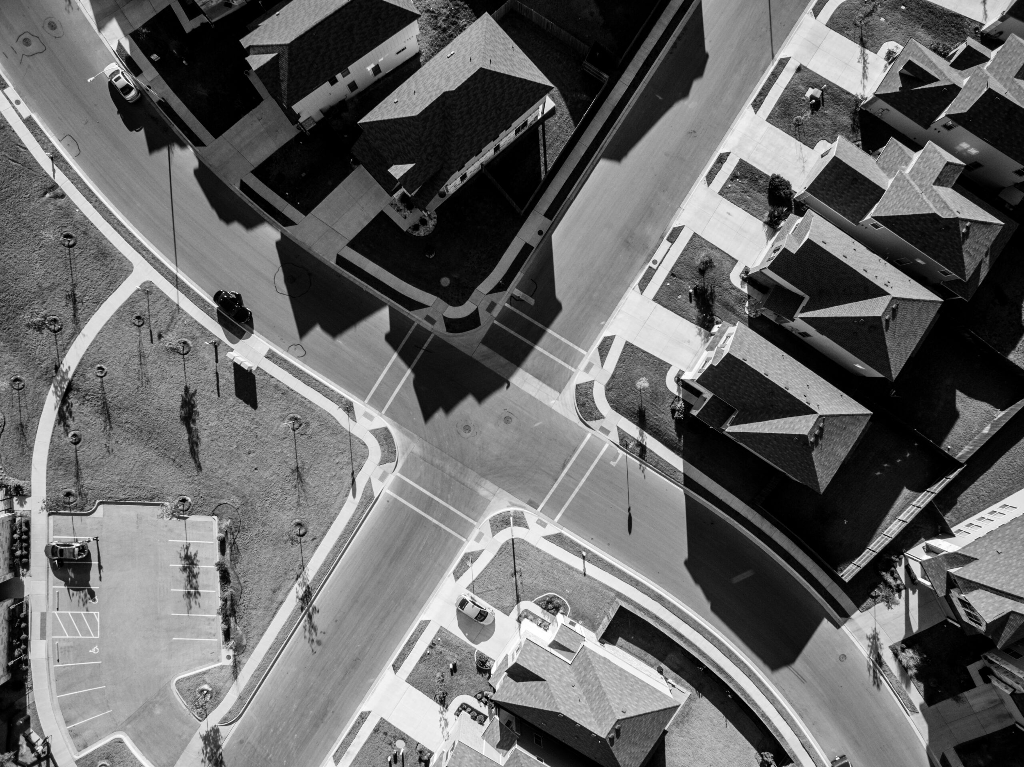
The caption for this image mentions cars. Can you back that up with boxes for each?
[44,540,91,570]
[451,593,496,628]
[829,757,851,767]
[104,60,142,107]
[208,285,255,325]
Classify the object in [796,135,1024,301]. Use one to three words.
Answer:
house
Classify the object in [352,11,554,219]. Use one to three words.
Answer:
house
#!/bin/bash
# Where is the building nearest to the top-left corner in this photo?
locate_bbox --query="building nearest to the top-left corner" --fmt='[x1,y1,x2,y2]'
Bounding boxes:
[194,0,251,29]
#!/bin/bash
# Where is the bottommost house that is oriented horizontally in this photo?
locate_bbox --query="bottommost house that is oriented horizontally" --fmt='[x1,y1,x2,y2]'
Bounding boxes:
[433,716,551,767]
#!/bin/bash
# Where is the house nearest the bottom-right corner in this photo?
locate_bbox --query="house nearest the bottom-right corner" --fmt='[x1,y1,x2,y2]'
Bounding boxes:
[992,649,1024,725]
